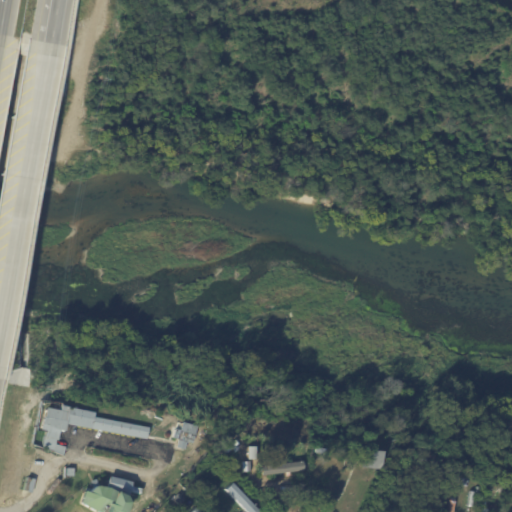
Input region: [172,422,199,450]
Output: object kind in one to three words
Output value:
house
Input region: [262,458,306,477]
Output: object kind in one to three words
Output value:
house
